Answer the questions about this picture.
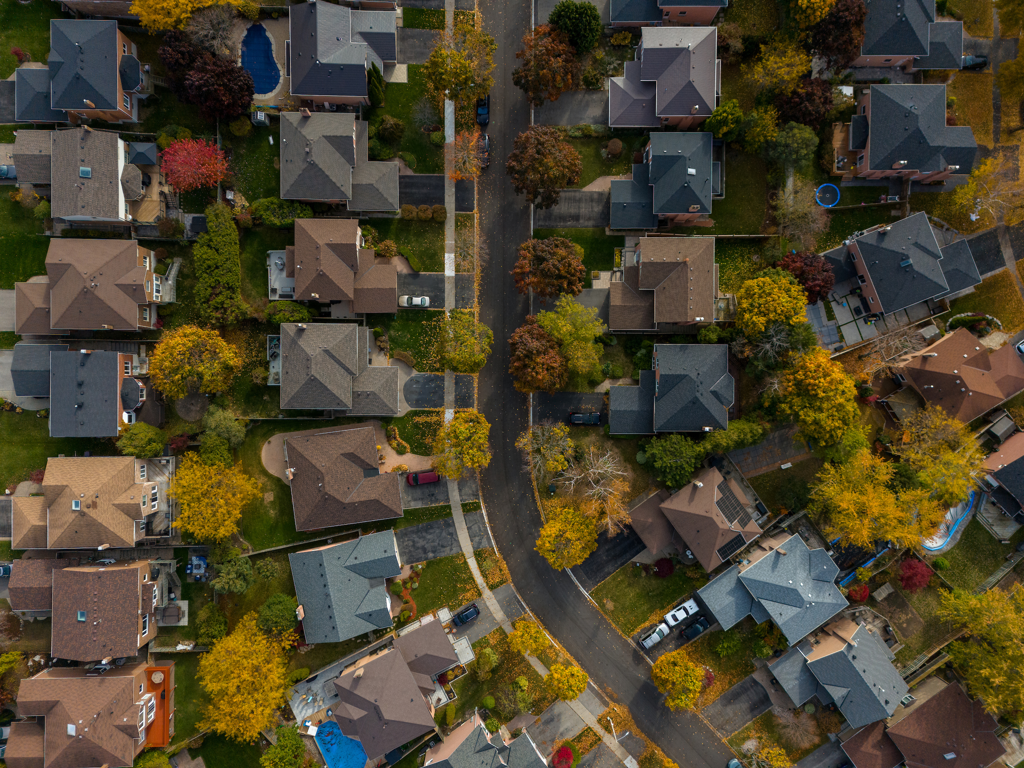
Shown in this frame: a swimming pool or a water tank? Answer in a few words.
swimming pool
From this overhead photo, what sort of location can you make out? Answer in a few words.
residential area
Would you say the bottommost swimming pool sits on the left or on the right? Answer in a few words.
left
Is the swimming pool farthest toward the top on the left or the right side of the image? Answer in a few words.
left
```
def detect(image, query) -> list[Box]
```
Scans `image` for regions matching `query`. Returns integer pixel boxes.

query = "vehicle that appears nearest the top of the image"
[963,54,990,70]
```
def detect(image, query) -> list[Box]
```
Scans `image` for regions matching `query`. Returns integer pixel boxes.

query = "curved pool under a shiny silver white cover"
[918,488,978,553]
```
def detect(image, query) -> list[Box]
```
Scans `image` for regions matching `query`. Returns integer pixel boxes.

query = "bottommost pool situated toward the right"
[828,531,893,581]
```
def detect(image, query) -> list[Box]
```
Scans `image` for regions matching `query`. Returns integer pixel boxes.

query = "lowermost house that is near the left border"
[0,666,150,768]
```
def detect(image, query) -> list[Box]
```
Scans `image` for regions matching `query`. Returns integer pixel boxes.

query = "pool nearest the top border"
[237,19,285,99]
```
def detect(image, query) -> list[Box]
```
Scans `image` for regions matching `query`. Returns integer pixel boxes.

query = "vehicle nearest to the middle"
[570,412,600,426]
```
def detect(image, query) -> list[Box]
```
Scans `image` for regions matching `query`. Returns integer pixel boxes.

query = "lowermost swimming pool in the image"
[312,721,372,768]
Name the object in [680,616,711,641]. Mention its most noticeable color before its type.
black car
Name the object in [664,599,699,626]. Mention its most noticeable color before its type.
white car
